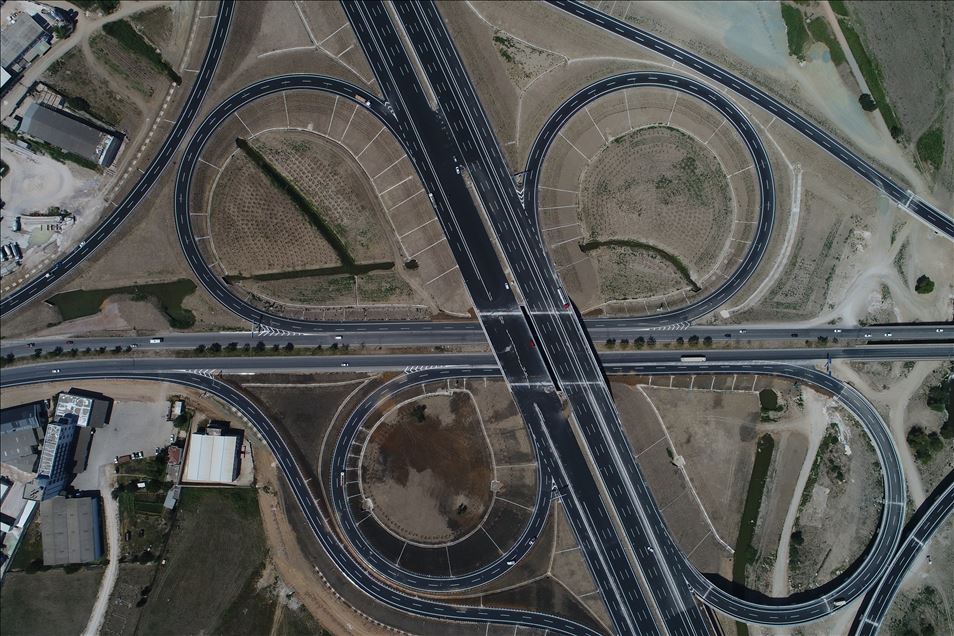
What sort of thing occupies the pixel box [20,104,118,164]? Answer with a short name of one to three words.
hangar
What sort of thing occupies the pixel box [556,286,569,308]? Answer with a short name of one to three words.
vehicle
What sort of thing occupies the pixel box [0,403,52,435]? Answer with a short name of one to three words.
building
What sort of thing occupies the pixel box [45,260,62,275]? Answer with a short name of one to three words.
vehicle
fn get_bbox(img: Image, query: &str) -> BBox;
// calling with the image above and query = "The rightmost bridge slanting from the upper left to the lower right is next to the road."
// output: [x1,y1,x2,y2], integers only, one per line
[900,192,954,242]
